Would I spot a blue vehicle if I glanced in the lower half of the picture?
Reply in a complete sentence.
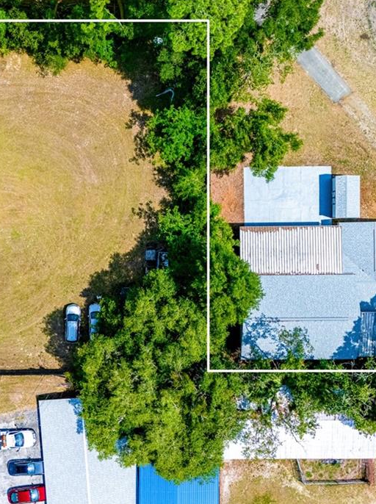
Yes, a blue vehicle is visible in the lower half of the picture.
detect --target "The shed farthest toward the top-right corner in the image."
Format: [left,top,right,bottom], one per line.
[335,176,361,218]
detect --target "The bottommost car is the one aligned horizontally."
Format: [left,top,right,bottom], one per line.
[7,484,45,503]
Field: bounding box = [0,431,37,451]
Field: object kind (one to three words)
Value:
vehicle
